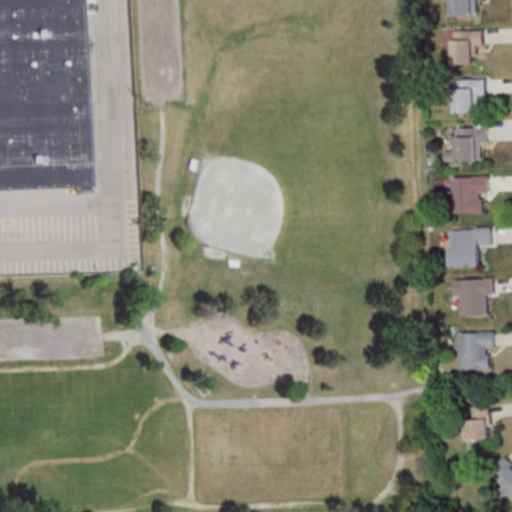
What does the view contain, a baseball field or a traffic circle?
baseball field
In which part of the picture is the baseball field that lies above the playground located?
center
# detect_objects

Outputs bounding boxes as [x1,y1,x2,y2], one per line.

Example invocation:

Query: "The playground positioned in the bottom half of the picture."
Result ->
[175,312,310,390]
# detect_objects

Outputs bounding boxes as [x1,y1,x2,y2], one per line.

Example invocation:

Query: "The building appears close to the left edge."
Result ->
[0,0,90,192]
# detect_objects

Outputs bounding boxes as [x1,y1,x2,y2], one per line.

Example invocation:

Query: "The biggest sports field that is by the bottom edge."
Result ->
[196,408,341,499]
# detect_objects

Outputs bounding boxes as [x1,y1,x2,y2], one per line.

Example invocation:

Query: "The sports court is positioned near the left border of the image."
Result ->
[0,315,104,362]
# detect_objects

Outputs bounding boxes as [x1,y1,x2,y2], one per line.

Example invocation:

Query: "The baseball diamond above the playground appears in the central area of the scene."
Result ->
[188,156,284,258]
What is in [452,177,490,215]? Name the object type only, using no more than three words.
house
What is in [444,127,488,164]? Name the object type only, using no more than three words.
house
